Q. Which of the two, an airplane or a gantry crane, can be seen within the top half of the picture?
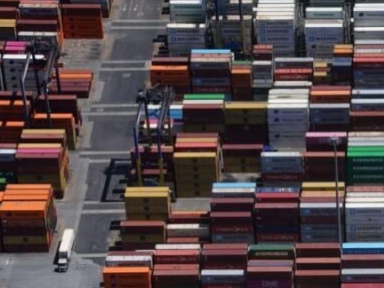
gantry crane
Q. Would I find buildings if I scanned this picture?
No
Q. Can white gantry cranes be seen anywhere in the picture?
No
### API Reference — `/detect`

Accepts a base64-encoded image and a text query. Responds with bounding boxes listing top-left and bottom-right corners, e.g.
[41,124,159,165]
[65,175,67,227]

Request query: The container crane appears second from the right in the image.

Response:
[126,81,176,202]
